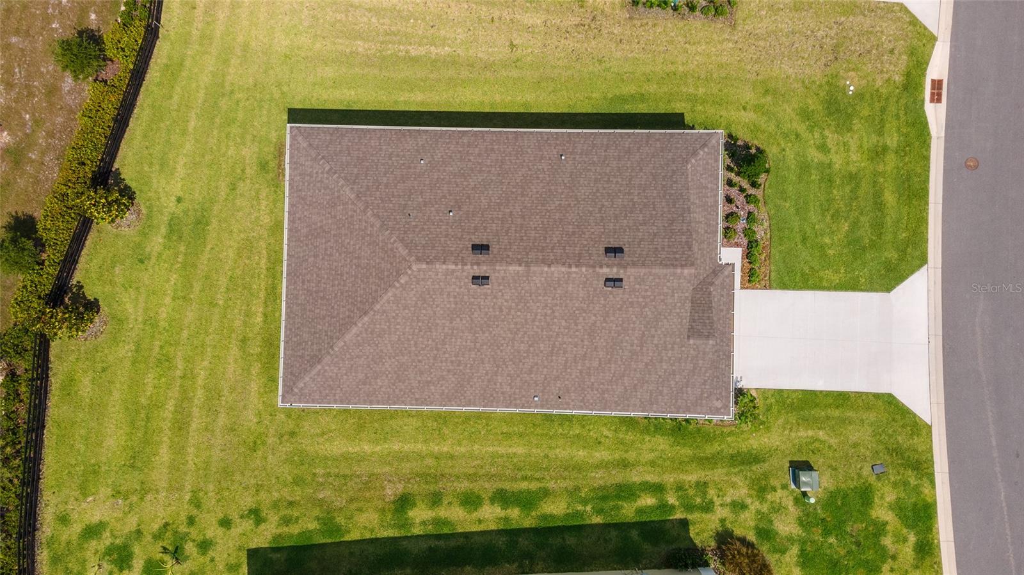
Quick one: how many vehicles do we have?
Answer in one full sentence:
I count no vehicles.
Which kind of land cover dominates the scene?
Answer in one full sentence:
The scene is dominated by grass.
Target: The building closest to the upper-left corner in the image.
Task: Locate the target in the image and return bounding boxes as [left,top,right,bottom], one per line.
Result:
[279,126,735,418]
